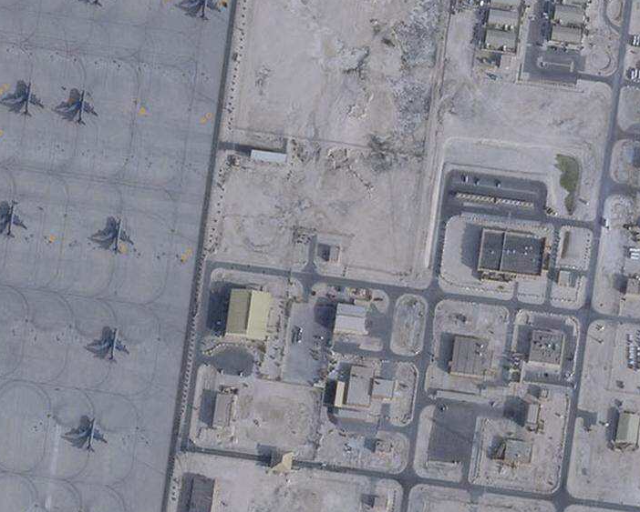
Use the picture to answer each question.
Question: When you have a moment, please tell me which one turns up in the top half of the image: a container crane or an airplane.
airplane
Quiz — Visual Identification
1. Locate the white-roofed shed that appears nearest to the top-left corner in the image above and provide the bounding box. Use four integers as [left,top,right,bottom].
[251,150,287,163]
